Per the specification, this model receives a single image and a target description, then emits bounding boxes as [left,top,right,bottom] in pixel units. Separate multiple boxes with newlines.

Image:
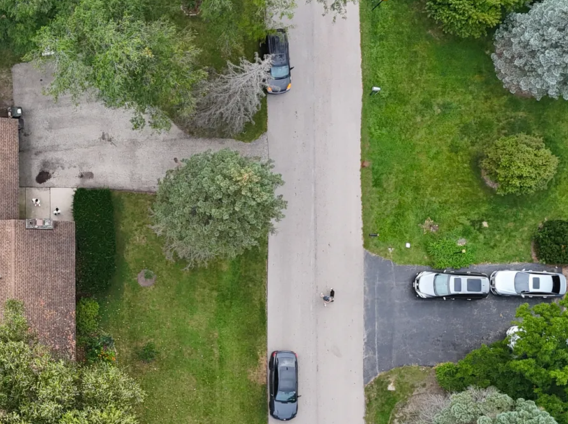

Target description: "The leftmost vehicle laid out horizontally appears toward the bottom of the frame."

[409,268,485,302]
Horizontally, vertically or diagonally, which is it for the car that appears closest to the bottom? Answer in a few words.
vertically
